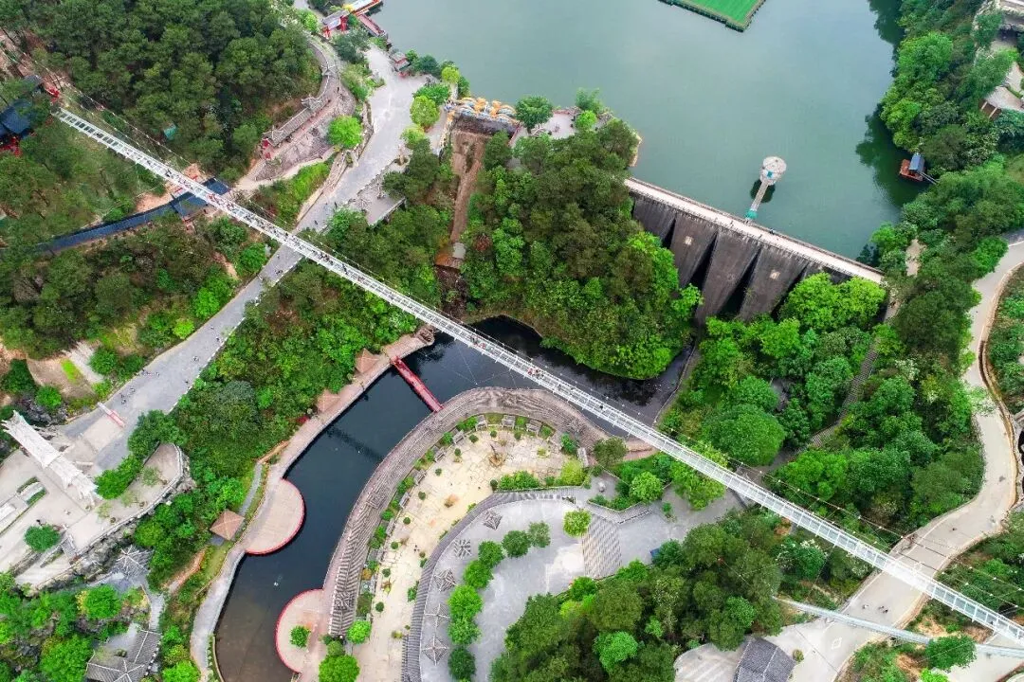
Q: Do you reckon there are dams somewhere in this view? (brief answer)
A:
Yes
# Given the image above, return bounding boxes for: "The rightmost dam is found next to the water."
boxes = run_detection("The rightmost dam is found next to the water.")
[629,174,906,336]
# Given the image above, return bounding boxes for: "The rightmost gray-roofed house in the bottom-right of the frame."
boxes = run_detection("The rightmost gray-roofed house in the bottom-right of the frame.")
[726,631,799,682]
